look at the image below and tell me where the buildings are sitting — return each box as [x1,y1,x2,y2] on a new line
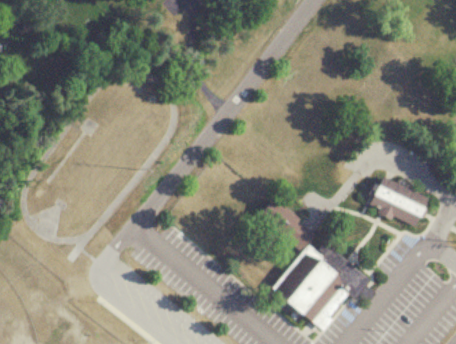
[274,244,352,332]
[372,178,430,226]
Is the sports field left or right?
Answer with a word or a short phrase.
left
